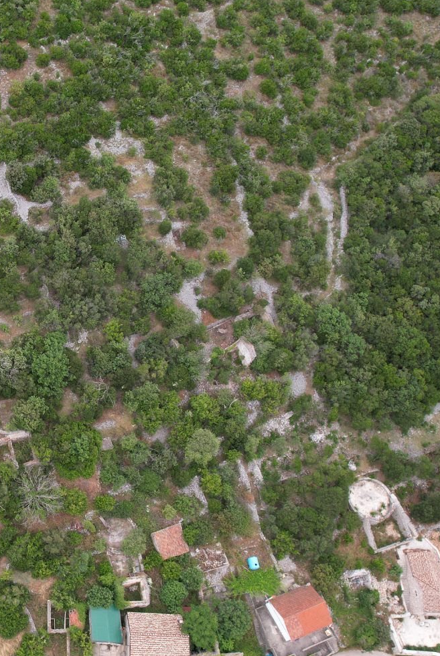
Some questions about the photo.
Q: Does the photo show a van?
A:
No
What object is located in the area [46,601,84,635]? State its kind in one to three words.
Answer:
shed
